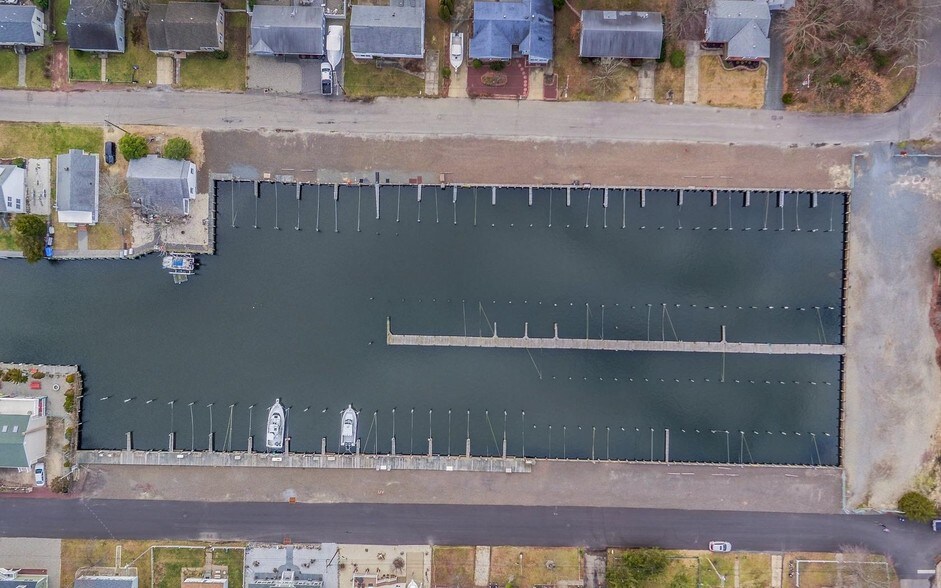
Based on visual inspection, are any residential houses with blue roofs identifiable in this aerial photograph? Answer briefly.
Yes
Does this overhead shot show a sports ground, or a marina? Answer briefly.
marina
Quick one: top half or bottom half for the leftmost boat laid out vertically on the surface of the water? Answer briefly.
bottom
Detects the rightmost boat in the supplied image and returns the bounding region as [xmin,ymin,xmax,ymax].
[450,28,463,71]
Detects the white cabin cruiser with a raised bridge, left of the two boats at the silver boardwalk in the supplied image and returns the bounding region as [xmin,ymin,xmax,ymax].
[264,400,284,449]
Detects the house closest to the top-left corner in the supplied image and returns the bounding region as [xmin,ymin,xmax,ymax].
[0,4,45,54]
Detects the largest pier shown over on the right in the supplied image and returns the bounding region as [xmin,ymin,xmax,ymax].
[387,335,848,356]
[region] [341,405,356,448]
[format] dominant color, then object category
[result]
white boat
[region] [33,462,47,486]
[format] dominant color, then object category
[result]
white vehicle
